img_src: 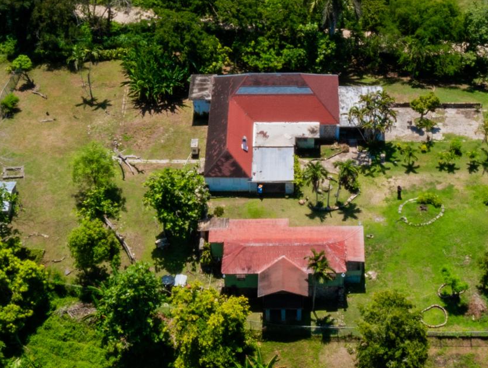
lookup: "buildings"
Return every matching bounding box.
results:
[200,216,366,322]
[189,72,383,201]
[0,181,18,222]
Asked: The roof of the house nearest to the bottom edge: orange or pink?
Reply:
pink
